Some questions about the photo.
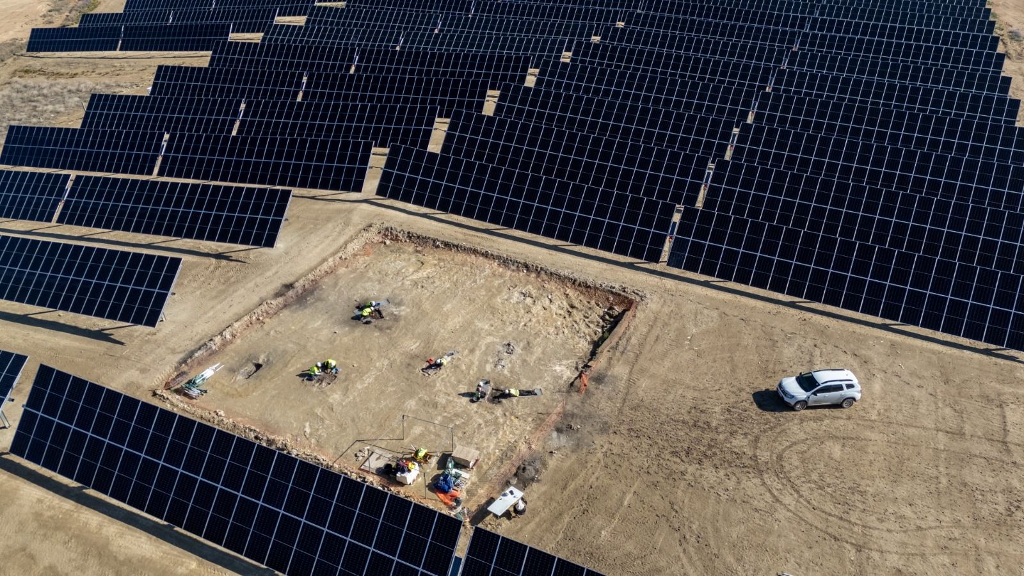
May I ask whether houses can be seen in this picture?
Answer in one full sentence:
No, I find no house anywhere in the image.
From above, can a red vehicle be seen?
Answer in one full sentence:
No, there appears to be no red vehicle in this shot.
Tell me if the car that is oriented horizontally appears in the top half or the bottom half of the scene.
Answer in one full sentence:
You can find the car that is oriented horizontally in the bottom half.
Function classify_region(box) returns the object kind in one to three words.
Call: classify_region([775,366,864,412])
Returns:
car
